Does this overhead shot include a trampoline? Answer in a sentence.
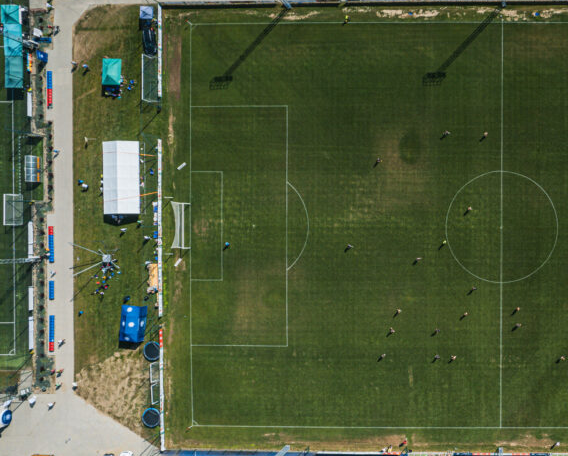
Yes, there is a trampoline in the image.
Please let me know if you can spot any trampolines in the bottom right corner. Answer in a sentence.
No, no trampoline can be made out in the bottom right corner.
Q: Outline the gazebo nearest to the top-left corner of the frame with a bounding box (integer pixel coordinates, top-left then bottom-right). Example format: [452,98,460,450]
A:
[1,7,27,28]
